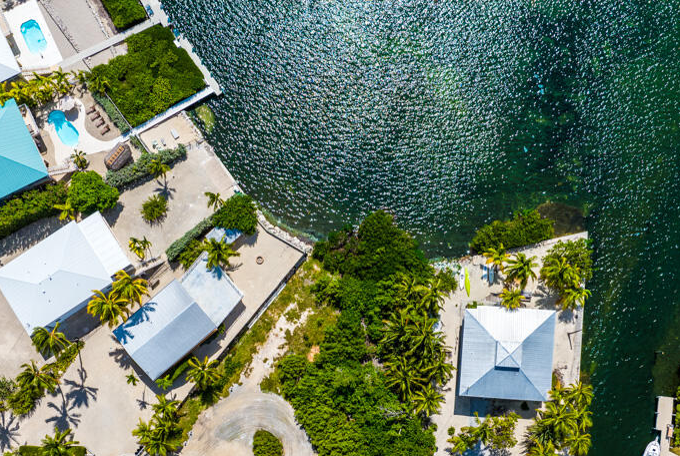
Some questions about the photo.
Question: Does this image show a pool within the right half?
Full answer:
No, no pool appears within the right half.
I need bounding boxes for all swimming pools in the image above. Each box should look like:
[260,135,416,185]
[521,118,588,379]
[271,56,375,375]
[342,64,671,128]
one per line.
[36,96,120,167]
[1,0,63,66]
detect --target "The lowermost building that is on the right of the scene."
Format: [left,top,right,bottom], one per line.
[458,309,557,401]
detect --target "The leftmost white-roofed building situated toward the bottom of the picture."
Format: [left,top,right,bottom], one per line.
[0,213,135,336]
